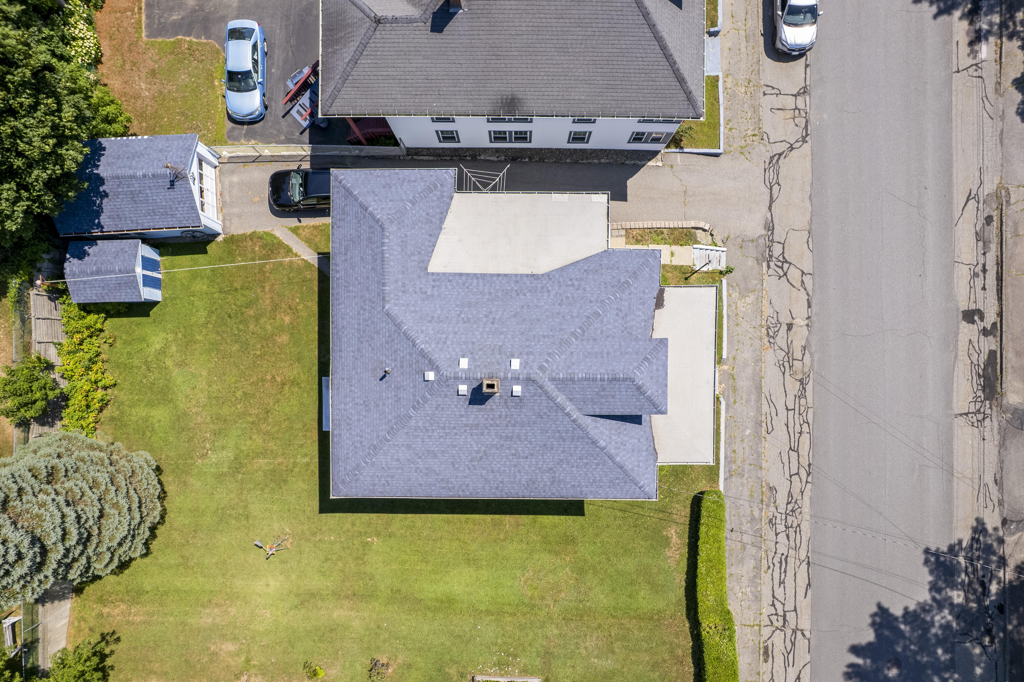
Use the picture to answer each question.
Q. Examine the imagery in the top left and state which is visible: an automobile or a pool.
automobile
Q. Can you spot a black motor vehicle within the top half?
Yes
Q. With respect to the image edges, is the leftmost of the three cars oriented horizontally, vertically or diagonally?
vertically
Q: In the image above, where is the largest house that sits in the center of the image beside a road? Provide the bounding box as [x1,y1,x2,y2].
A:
[323,167,719,501]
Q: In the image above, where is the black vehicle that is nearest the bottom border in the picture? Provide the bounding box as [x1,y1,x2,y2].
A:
[267,162,333,213]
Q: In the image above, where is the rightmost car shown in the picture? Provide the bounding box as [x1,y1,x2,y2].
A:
[768,0,825,57]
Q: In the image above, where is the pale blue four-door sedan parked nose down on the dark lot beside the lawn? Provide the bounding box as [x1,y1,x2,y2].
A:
[218,16,269,126]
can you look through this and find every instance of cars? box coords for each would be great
[768,0,825,57]
[267,162,333,213]
[218,16,269,126]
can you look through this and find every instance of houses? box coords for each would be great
[319,0,706,152]
[323,167,719,501]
